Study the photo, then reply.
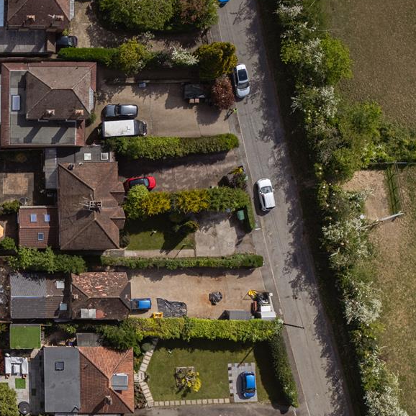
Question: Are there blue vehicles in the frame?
Yes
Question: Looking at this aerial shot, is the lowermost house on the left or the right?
left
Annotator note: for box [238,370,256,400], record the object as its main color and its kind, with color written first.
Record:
blue car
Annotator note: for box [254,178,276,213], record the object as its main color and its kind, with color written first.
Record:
white car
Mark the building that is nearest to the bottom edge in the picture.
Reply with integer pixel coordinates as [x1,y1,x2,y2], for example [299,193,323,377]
[38,343,134,416]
